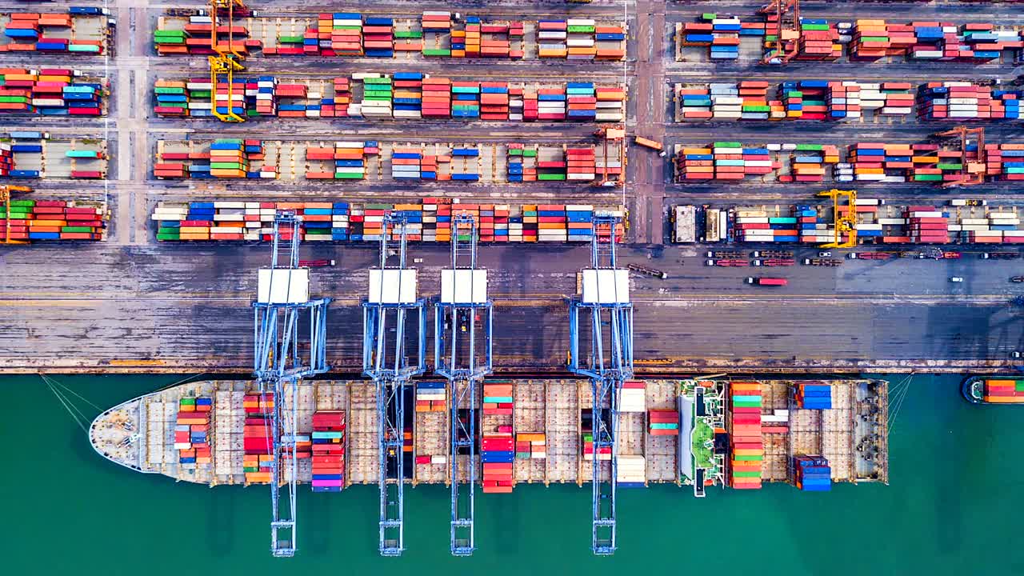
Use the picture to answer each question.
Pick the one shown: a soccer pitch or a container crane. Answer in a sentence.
I can see a container crane in this picture.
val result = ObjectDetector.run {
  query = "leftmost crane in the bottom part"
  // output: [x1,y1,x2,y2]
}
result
[250,203,343,559]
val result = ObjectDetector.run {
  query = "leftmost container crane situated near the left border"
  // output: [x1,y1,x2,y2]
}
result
[0,186,40,249]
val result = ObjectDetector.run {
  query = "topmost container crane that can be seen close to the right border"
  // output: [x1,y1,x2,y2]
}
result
[935,127,988,191]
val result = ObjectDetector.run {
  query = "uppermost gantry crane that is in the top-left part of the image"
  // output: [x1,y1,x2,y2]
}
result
[211,0,251,64]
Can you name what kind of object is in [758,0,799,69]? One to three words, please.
container crane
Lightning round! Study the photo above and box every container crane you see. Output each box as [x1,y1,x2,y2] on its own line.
[594,124,625,190]
[211,0,251,64]
[558,204,637,557]
[935,127,988,191]
[0,186,40,249]
[432,203,503,558]
[360,203,437,558]
[758,0,799,69]
[812,190,855,251]
[250,203,343,559]
[210,56,250,126]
